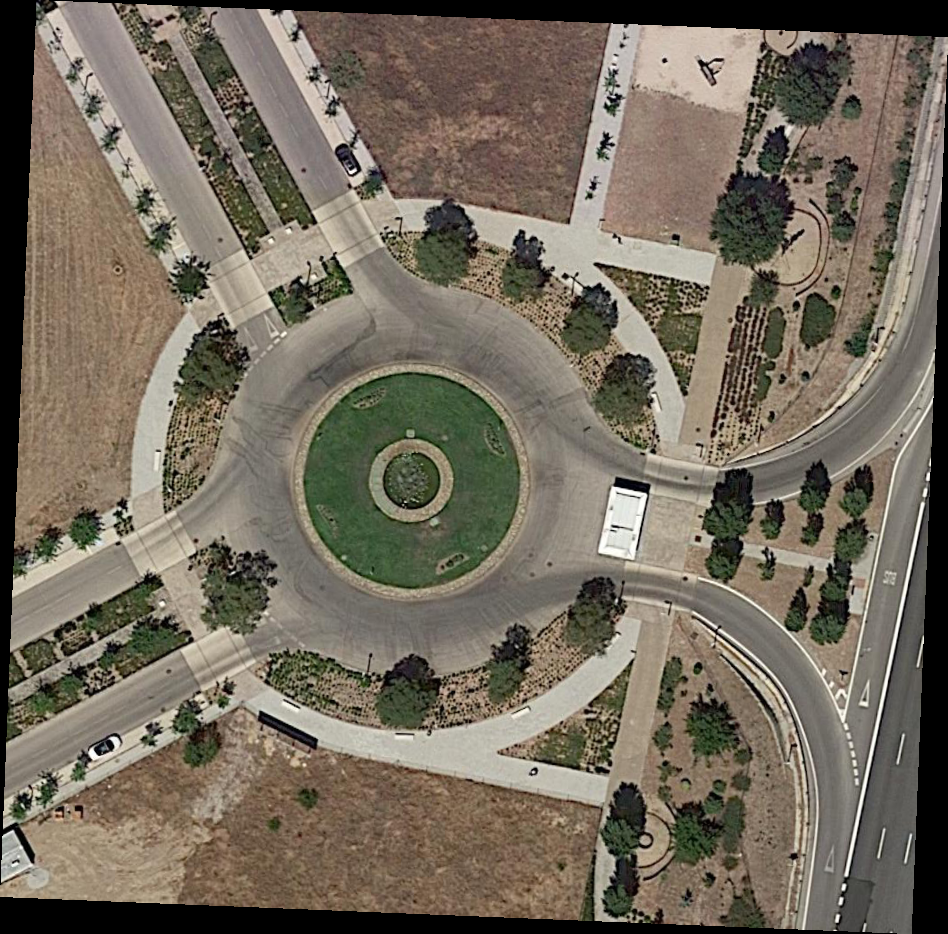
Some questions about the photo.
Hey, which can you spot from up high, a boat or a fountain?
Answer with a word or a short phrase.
fountain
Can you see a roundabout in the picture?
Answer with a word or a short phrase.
Yes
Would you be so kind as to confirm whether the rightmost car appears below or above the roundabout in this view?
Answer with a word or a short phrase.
above it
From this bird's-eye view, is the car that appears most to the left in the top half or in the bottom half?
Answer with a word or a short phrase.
bottom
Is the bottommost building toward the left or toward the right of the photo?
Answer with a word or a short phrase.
left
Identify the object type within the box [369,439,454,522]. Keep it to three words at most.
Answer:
fountain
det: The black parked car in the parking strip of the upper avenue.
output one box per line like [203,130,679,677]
[336,145,359,176]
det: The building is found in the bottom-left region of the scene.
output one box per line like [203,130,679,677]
[0,830,31,884]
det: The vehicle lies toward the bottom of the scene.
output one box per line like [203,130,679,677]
[89,737,119,760]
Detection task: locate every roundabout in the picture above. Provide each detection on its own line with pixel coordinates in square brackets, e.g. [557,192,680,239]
[178,247,649,677]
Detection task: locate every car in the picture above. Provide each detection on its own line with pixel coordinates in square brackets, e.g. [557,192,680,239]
[89,737,119,760]
[336,145,359,176]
